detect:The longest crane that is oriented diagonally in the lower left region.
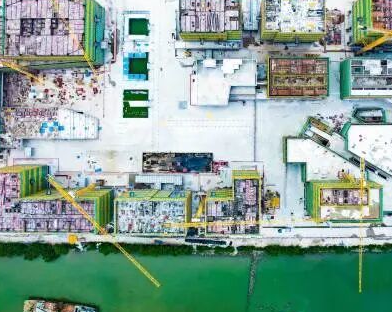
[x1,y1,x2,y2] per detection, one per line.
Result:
[46,175,161,287]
